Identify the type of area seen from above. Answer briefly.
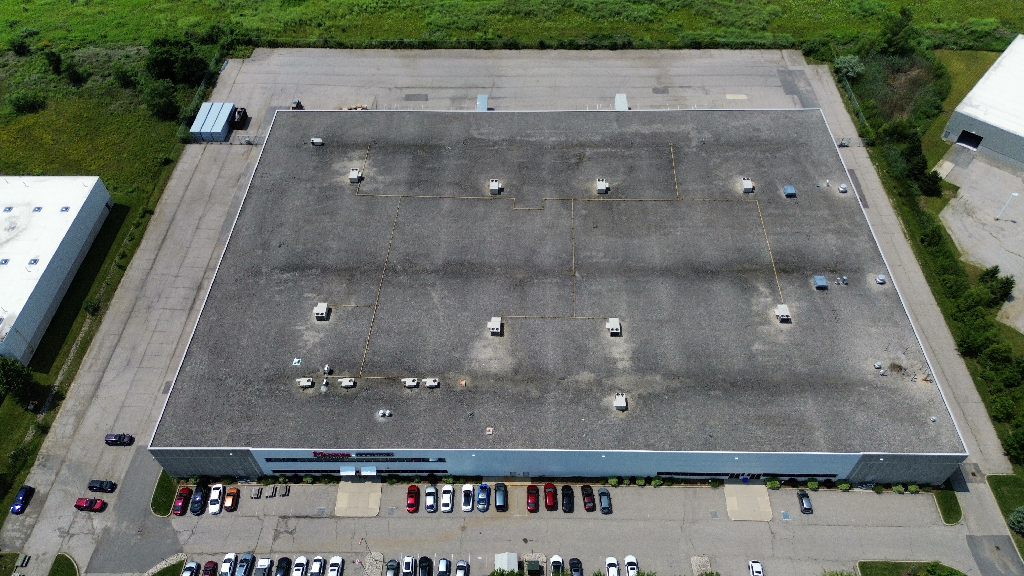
industrial area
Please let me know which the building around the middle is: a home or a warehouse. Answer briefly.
warehouse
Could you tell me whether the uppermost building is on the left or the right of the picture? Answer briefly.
right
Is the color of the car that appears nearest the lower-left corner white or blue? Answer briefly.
blue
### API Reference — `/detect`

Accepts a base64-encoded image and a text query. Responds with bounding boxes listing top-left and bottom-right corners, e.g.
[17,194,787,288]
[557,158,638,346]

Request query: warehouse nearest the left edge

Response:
[0,176,116,361]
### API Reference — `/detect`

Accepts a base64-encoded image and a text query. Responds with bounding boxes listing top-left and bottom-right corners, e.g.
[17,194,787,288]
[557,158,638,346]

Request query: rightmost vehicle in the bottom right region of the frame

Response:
[796,490,813,515]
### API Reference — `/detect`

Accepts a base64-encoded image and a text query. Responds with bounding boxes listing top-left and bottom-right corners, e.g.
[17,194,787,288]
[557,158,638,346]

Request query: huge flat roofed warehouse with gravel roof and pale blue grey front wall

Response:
[148,108,970,490]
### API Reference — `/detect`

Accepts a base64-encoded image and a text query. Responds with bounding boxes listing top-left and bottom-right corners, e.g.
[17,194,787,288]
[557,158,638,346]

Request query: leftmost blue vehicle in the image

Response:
[11,487,32,512]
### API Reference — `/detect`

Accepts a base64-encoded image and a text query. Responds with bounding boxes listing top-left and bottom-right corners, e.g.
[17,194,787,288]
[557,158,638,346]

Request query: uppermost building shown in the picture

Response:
[941,36,1024,172]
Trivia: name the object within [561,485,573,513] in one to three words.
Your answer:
vehicle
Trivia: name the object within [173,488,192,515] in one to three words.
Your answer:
car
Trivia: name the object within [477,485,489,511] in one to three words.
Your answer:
vehicle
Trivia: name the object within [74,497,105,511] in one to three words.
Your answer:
car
